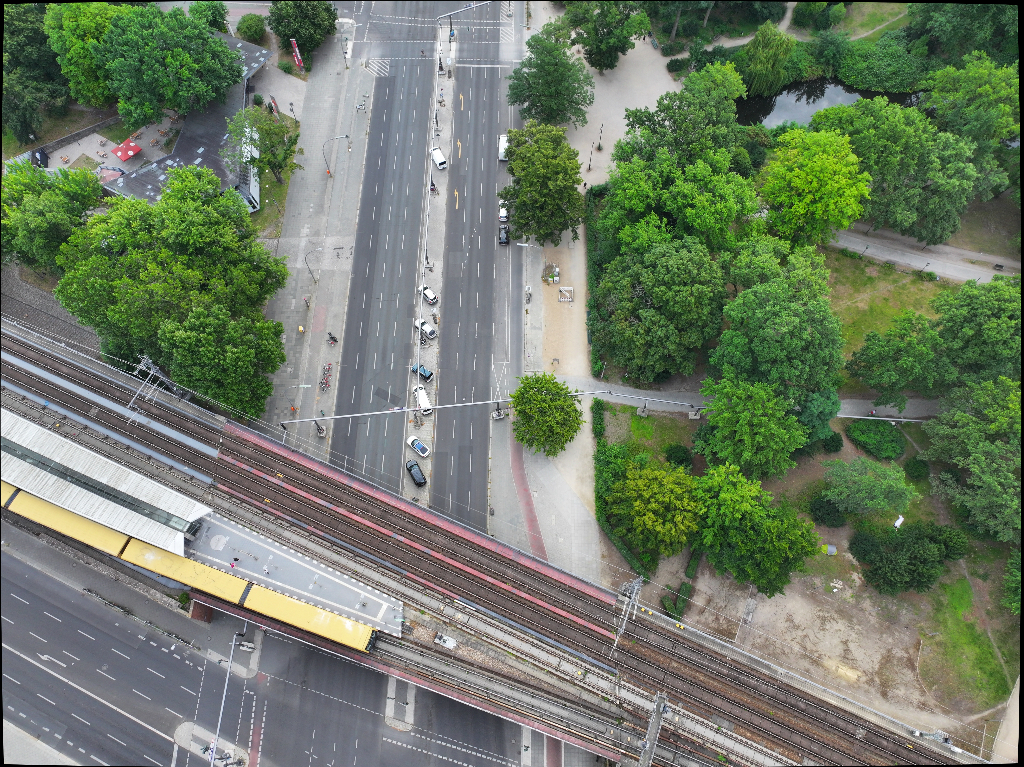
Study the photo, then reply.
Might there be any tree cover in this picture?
Yes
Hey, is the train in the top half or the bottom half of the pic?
bottom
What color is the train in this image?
yellow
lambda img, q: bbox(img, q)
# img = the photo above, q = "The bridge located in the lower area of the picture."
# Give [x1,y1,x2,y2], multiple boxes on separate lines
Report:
[0,316,999,767]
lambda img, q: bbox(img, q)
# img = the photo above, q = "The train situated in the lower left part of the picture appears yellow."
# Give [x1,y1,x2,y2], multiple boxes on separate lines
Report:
[0,481,381,655]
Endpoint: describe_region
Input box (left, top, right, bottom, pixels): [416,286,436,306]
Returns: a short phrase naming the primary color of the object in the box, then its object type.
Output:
white car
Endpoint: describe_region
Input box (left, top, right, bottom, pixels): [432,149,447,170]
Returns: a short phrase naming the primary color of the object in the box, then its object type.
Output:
white vehicle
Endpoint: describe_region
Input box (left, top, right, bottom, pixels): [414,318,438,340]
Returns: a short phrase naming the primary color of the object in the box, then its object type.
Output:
white car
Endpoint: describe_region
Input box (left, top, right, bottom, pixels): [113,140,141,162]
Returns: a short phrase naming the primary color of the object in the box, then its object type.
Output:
red umbrella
